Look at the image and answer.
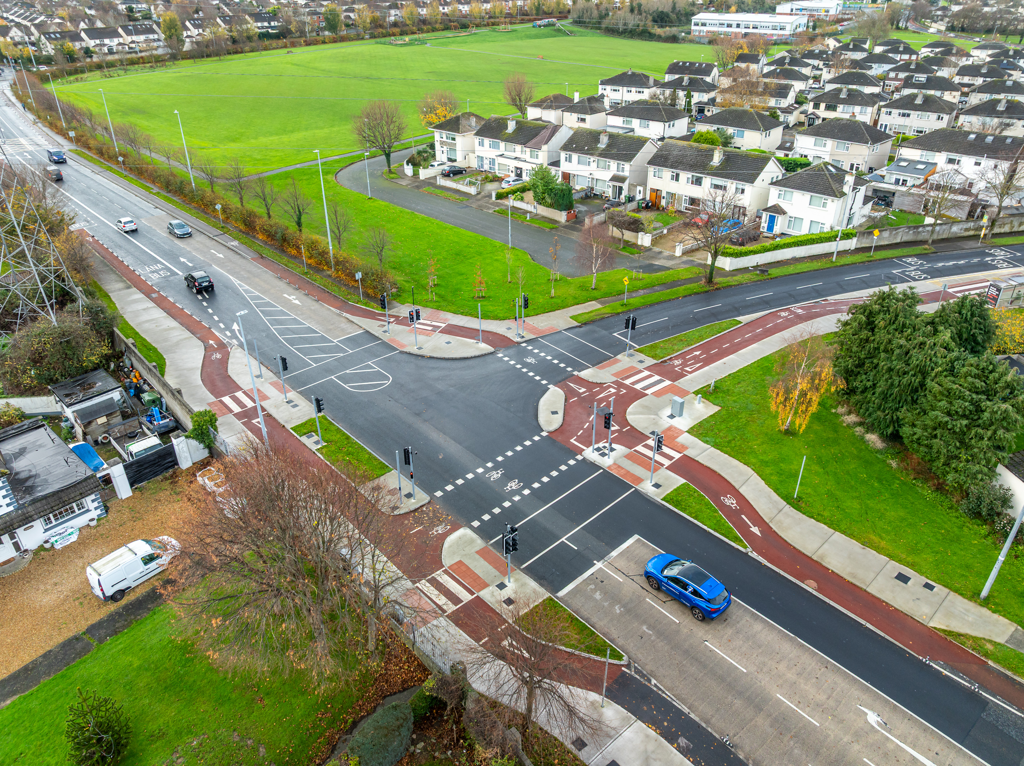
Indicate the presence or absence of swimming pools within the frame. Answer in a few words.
No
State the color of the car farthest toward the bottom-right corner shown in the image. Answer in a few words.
blue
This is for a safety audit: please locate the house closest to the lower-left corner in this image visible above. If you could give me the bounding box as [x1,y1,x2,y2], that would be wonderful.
[0,410,97,563]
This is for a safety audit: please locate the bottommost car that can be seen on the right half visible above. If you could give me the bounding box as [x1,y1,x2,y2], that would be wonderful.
[644,556,736,624]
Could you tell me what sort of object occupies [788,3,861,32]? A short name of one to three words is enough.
building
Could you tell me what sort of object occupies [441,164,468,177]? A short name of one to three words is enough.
vehicle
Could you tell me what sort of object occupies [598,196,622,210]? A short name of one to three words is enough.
car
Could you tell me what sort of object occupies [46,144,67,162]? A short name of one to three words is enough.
vehicle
